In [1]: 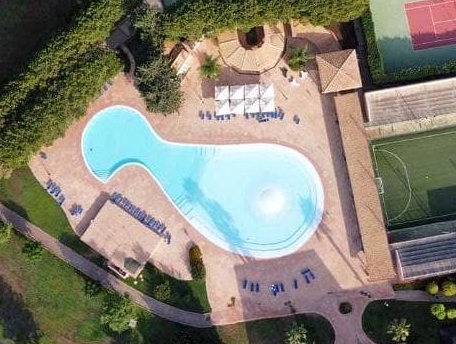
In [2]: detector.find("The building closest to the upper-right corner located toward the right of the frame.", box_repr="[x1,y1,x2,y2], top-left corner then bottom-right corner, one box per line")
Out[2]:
[316,49,363,94]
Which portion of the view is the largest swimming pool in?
center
